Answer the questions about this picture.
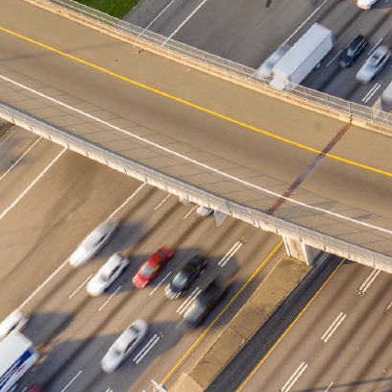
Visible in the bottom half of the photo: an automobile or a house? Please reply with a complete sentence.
The one visible in the bottom half of the photo is an automobile.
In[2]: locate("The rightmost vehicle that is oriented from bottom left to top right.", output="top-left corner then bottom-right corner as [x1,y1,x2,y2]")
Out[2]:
[357,48,391,81]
